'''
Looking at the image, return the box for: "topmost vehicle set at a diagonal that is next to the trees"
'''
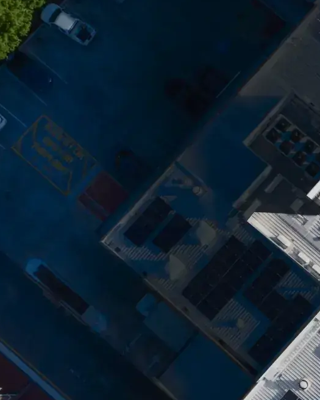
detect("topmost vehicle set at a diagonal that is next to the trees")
[40,2,101,50]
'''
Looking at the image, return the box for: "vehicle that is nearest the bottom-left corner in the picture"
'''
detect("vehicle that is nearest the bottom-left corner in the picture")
[23,256,113,341]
